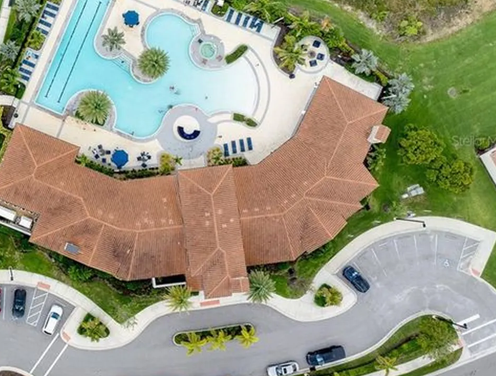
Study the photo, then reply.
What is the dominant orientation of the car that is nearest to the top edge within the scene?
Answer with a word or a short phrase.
diagonally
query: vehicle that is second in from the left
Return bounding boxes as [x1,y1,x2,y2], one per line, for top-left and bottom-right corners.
[43,303,61,337]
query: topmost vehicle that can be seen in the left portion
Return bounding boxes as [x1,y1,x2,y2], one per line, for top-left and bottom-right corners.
[12,288,26,320]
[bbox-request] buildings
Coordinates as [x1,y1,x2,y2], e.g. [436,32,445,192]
[481,149,496,187]
[0,75,396,303]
